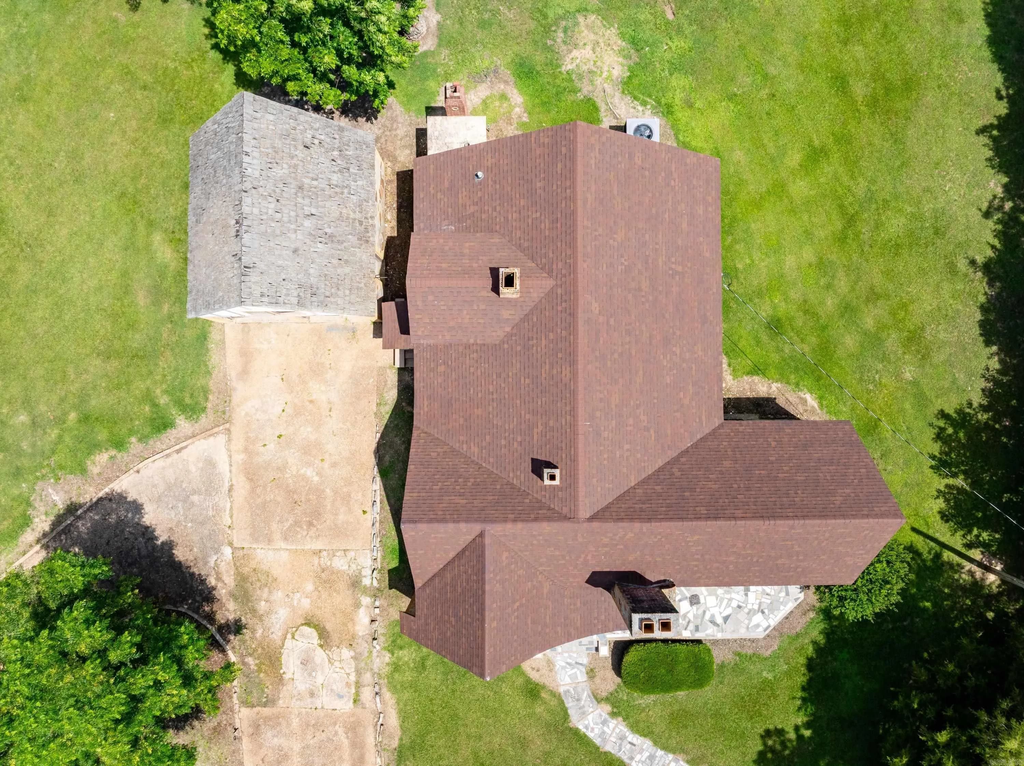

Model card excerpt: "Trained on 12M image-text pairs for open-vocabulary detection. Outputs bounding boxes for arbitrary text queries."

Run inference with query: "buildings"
[382,122,905,682]
[189,92,383,322]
